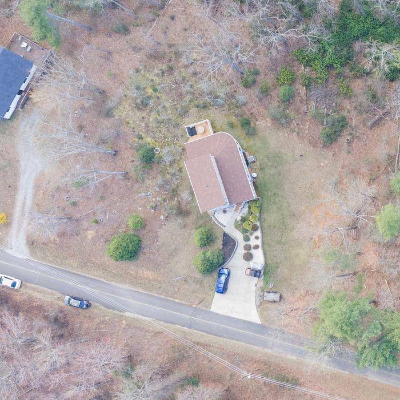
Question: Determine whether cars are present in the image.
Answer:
Yes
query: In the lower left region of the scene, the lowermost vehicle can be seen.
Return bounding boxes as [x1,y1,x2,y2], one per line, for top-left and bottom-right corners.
[65,295,94,310]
